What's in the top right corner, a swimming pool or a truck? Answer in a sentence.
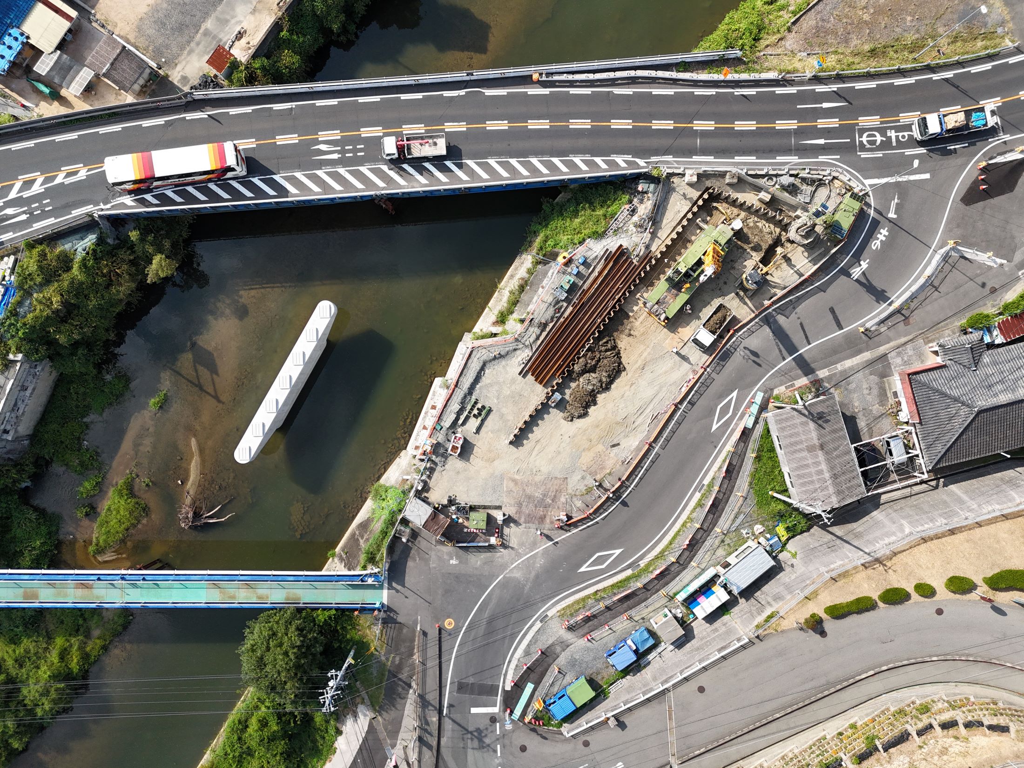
Visible in the top right corner is a truck.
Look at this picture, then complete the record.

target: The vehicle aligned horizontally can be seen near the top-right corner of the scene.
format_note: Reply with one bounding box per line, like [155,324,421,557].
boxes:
[907,102,997,143]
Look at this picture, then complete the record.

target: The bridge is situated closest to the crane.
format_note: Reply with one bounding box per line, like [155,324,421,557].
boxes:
[99,46,741,227]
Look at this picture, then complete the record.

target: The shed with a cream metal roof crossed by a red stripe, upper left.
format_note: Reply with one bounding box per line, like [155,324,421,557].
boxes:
[19,0,78,57]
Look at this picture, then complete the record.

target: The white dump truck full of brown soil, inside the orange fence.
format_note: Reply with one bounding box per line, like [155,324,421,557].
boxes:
[685,299,739,355]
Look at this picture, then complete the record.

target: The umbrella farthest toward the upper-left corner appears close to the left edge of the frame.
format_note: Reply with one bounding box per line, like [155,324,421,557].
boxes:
[27,78,69,106]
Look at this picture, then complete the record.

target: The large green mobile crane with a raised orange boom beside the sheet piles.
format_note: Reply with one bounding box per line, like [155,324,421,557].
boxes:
[636,218,736,326]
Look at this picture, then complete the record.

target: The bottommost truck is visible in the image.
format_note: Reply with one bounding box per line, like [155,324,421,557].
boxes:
[540,670,601,729]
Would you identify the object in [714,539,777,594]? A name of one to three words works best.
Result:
shed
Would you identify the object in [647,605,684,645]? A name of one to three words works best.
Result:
shed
